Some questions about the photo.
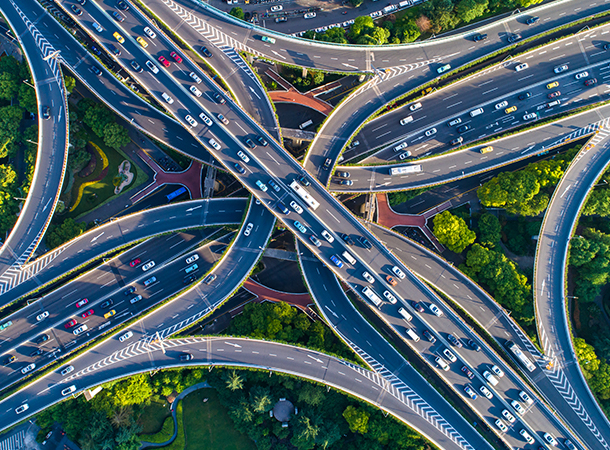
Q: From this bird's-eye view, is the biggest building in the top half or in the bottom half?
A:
bottom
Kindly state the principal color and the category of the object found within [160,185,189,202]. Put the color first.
blue vehicle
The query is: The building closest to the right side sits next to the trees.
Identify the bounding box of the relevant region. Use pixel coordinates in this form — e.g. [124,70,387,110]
[272,396,295,420]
